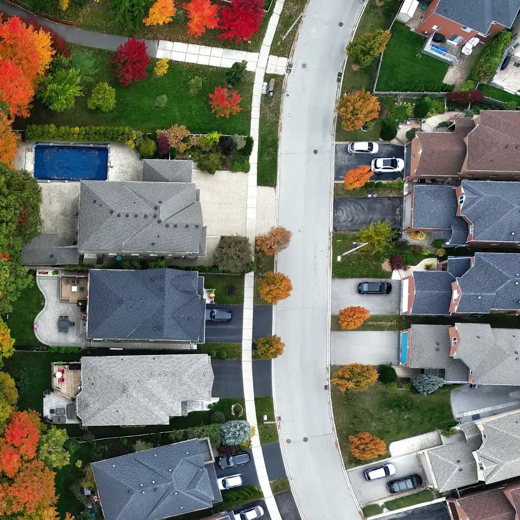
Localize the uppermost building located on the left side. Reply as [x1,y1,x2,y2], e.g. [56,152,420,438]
[21,159,208,265]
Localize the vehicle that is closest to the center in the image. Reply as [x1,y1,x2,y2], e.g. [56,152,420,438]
[206,306,237,323]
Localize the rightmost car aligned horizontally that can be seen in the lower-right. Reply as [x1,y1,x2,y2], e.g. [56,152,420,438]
[385,474,422,494]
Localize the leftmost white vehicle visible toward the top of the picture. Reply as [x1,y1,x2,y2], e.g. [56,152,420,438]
[346,139,378,156]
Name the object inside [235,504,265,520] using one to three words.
car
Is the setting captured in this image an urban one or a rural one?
urban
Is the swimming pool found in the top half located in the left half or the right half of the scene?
left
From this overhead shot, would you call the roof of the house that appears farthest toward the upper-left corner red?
No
